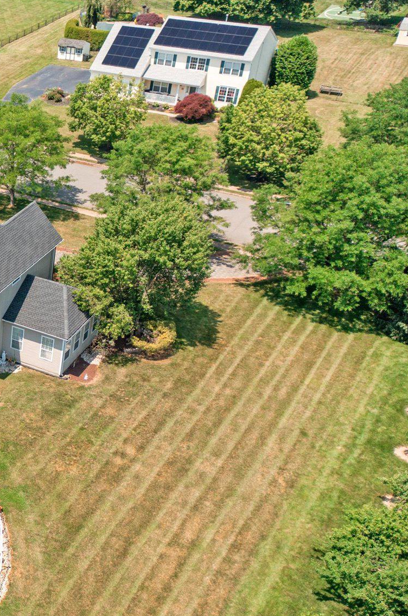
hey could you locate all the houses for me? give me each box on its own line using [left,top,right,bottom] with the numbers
[94,11,278,105]
[0,201,105,376]
[396,13,408,47]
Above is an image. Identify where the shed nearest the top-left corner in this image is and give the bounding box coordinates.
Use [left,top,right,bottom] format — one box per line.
[59,39,89,61]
